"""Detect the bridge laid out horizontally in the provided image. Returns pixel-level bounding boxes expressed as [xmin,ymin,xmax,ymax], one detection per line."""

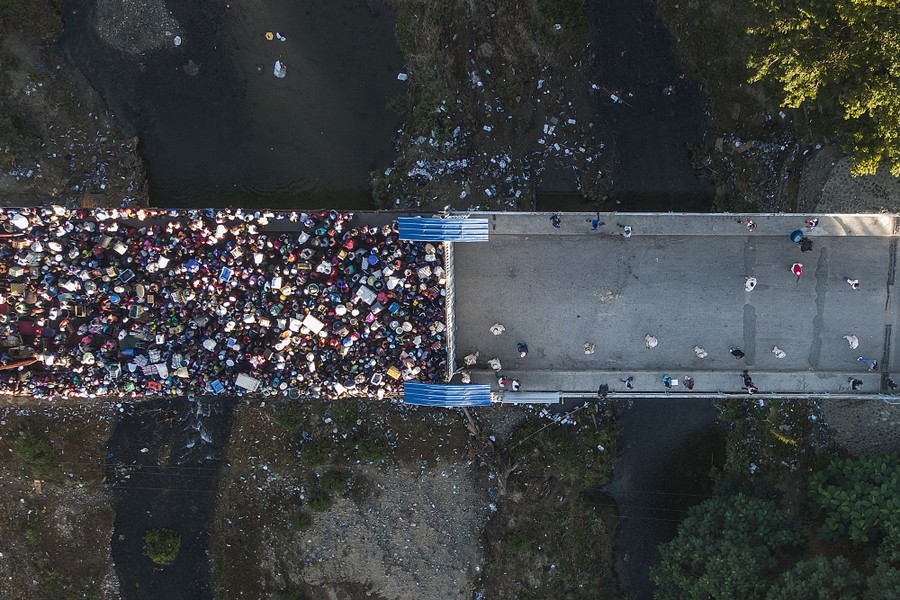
[0,210,900,404]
